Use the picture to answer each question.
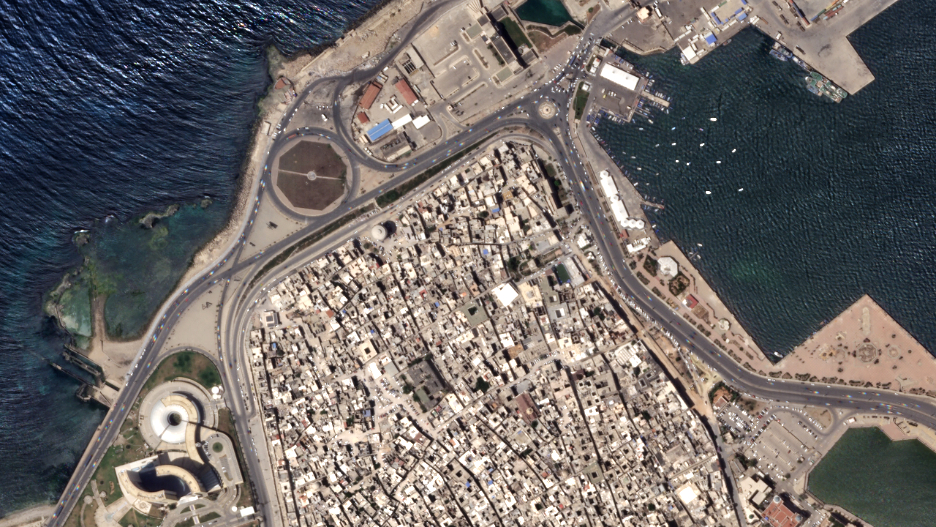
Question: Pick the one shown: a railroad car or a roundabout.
roundabout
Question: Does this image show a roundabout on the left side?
Yes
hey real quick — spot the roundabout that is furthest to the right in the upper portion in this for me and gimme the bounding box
[523,86,570,133]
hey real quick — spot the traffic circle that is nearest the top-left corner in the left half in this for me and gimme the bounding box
[263,126,361,226]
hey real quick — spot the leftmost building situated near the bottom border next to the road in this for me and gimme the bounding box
[115,378,223,513]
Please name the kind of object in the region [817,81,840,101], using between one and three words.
ship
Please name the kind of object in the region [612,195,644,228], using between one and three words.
building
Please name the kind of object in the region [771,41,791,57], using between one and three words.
ship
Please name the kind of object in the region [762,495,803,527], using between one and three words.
building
